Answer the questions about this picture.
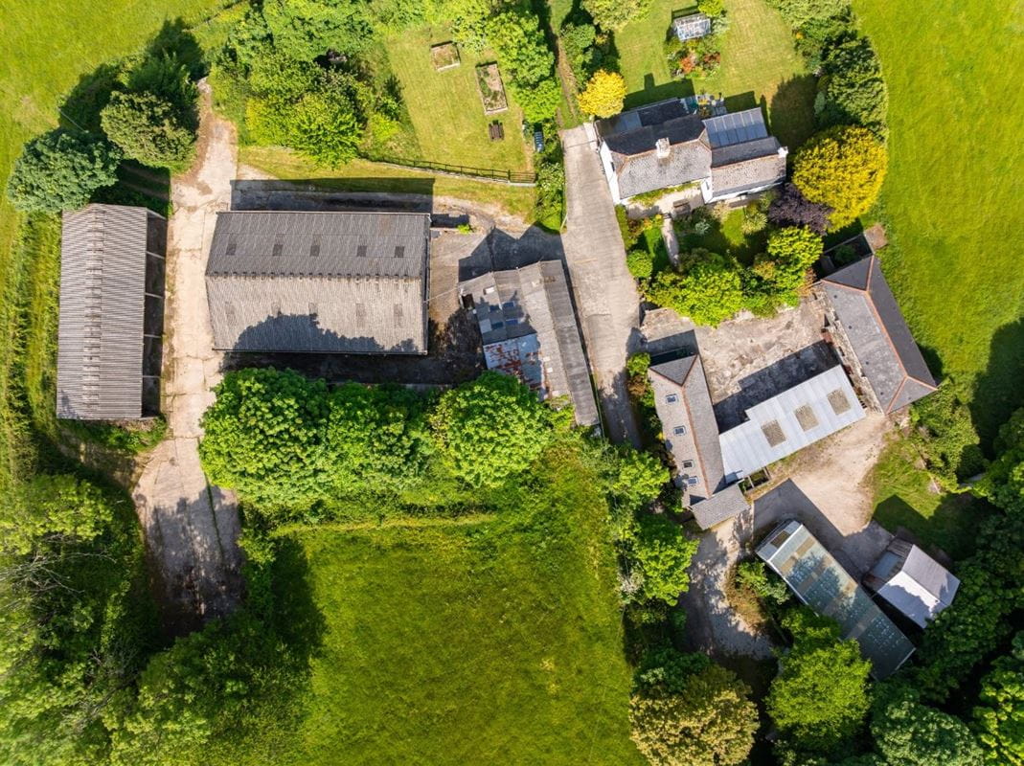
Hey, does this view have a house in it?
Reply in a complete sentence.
Yes, there's a house down there.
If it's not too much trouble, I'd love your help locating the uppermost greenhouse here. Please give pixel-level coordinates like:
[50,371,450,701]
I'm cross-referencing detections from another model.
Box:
[671,14,711,47]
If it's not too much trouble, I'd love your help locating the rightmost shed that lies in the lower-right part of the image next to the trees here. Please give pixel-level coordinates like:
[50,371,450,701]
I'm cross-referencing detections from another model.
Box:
[856,533,958,629]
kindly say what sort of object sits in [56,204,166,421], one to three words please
barn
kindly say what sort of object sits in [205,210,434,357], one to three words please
barn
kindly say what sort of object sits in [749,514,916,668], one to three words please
shed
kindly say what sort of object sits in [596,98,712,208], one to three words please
house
